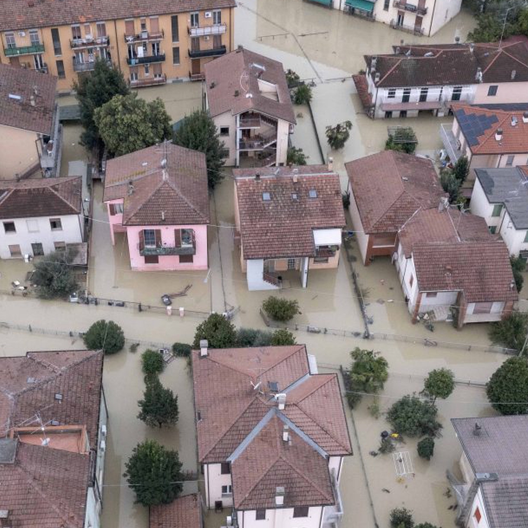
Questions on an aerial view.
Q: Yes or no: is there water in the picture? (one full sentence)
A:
Yes, water can be seen from above here.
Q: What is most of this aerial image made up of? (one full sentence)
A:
The scene is dominated by buildings.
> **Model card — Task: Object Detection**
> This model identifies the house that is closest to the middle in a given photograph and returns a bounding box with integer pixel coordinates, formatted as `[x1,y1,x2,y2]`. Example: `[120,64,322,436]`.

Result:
[232,153,347,292]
